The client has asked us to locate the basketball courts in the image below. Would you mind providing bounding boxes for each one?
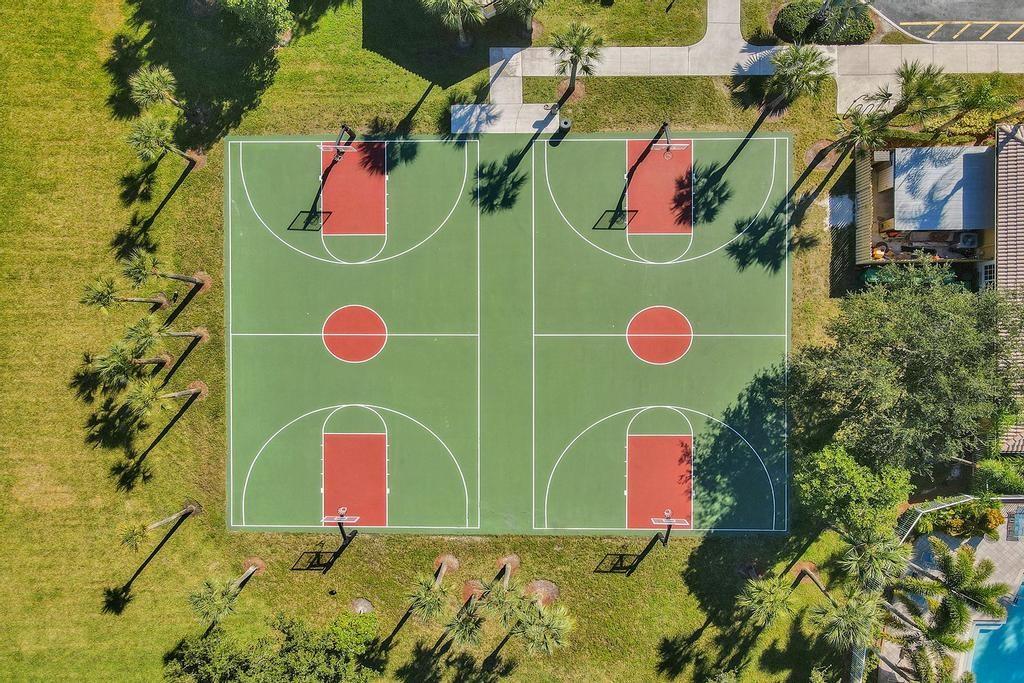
[533,138,789,530]
[229,140,479,528]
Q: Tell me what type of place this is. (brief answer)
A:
sports ground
